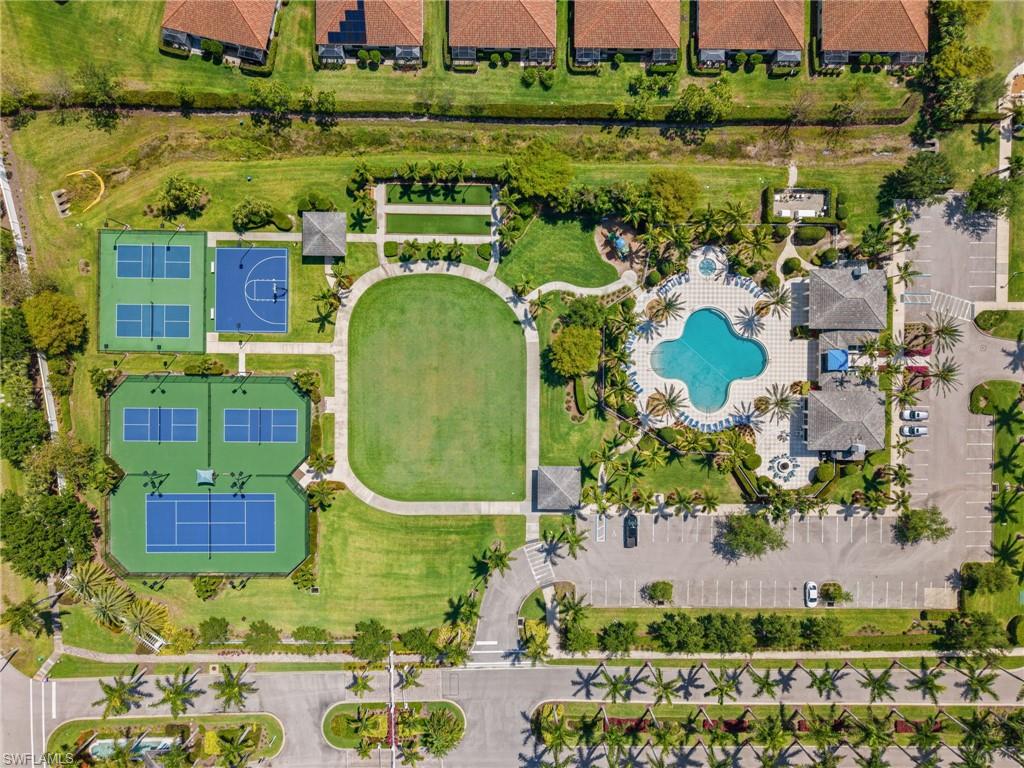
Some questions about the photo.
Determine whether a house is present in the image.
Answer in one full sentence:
Yes, I can see a house in this picture.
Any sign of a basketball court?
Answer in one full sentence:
Yes, the picture does show a basketball court.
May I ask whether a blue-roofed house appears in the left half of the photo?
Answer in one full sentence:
No, no blue-roofed house is visible in the left half of the photo.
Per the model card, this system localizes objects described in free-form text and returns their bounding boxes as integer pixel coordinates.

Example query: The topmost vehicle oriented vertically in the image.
[624,514,637,547]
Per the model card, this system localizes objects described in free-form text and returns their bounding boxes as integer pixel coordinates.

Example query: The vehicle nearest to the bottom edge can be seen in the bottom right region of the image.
[804,582,817,607]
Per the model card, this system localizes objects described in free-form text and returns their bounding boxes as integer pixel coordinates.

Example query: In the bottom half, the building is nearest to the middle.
[538,466,581,509]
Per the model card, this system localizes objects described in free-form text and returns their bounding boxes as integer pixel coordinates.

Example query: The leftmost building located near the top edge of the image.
[159,0,279,72]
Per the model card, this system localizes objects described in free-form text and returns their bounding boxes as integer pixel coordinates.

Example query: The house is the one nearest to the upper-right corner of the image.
[818,0,928,76]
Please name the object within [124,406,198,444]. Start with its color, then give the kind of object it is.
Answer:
blue sports court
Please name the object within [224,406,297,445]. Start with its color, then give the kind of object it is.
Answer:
blue sports court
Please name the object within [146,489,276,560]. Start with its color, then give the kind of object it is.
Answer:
blue tennis court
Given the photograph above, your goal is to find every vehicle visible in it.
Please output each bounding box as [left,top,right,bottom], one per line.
[804,582,817,607]
[624,514,637,547]
[899,425,928,437]
[899,409,928,421]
